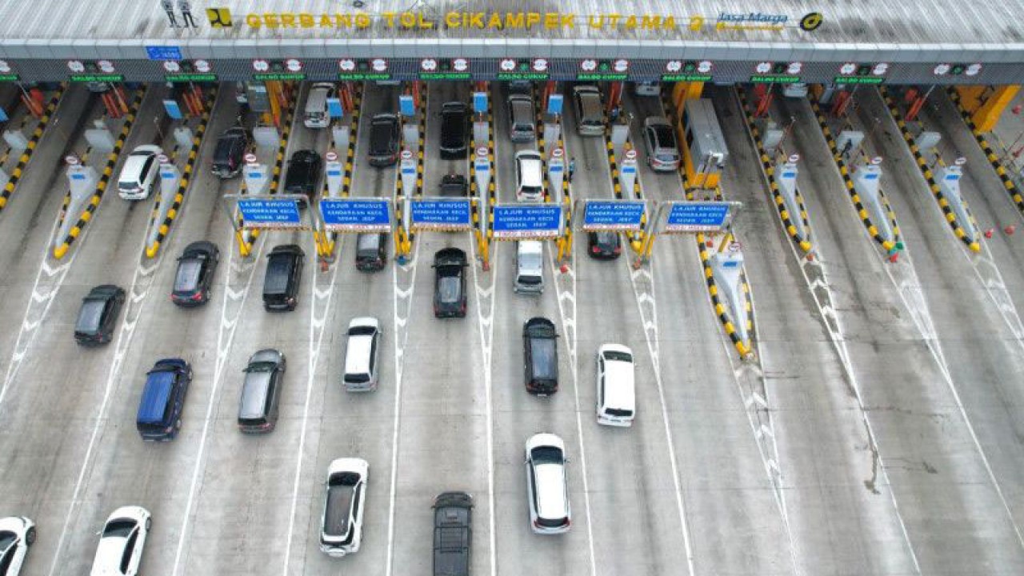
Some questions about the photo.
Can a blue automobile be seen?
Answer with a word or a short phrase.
Yes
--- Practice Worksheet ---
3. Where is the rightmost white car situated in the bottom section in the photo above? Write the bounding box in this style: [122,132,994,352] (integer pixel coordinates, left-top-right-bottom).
[593,345,637,428]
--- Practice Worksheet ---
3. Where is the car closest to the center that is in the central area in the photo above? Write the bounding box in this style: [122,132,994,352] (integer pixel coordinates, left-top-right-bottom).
[510,240,546,294]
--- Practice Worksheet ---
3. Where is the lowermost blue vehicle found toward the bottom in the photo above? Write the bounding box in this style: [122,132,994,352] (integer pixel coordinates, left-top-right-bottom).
[136,358,194,443]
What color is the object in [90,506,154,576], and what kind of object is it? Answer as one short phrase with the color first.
white car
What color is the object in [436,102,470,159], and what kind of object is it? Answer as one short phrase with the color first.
black car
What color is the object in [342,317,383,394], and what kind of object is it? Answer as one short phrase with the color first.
white car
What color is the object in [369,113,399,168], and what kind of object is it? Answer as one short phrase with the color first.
black car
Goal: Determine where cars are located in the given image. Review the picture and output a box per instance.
[320,457,371,558]
[432,247,470,319]
[436,102,470,159]
[369,113,399,168]
[261,243,307,313]
[772,81,804,98]
[628,80,657,97]
[518,317,561,398]
[641,119,677,172]
[510,240,546,294]
[169,239,222,308]
[505,93,536,143]
[75,282,130,348]
[342,317,383,394]
[237,348,288,436]
[512,151,545,202]
[524,433,572,536]
[136,358,194,443]
[210,124,253,179]
[119,146,158,200]
[435,171,471,230]
[282,150,322,209]
[586,231,622,263]
[300,78,336,129]
[427,494,477,576]
[90,506,154,576]
[355,213,391,271]
[593,345,637,428]
[572,85,606,137]
[376,78,401,88]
